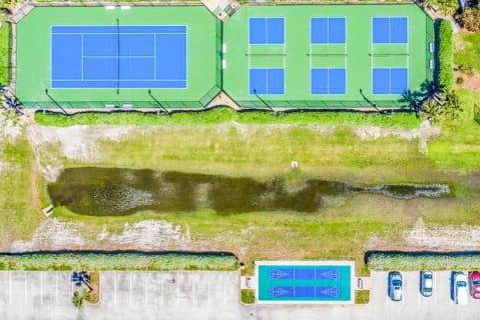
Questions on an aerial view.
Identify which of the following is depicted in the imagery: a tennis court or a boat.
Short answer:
tennis court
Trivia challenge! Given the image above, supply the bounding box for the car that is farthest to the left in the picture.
[390,271,404,301]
